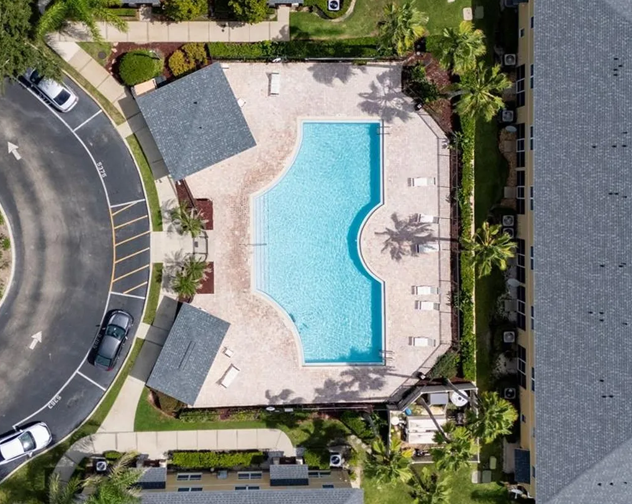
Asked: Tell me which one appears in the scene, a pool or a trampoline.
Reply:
pool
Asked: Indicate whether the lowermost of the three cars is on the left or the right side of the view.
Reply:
left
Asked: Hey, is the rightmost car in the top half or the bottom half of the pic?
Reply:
bottom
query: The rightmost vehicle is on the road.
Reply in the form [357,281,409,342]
[91,307,134,372]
